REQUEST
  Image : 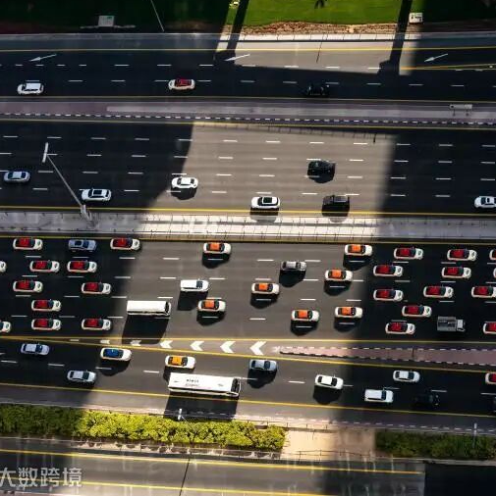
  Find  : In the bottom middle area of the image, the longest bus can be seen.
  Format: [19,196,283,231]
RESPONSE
[167,373,241,397]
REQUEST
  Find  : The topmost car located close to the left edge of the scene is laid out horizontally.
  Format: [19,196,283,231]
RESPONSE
[18,81,43,93]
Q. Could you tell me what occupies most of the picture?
paved ground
